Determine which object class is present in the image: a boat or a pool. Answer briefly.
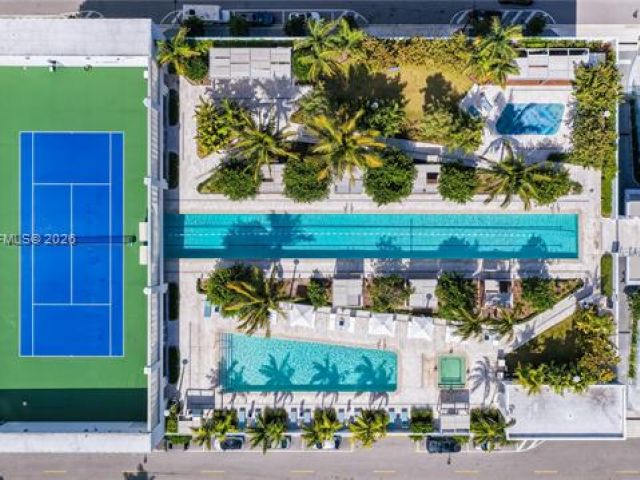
pool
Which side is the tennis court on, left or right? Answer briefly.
left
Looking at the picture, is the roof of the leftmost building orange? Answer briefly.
No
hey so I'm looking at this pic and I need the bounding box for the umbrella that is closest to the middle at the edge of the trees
[289,304,313,328]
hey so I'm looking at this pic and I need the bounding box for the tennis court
[0,66,148,421]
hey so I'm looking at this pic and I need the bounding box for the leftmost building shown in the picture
[0,18,169,452]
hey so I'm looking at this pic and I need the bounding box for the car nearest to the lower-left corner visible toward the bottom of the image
[216,436,246,450]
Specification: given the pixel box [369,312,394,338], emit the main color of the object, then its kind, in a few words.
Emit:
white umbrella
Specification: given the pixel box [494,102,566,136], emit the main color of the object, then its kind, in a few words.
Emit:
blue swimming pool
